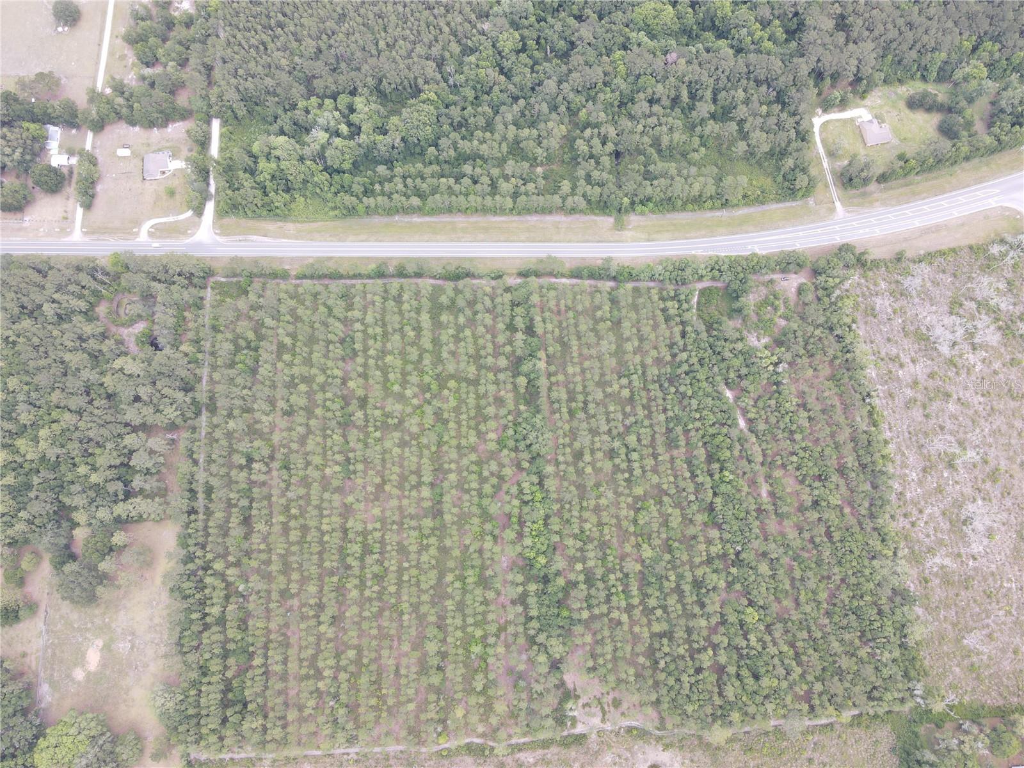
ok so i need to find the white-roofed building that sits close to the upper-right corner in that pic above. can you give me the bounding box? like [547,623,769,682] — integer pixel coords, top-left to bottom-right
[857,113,894,148]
